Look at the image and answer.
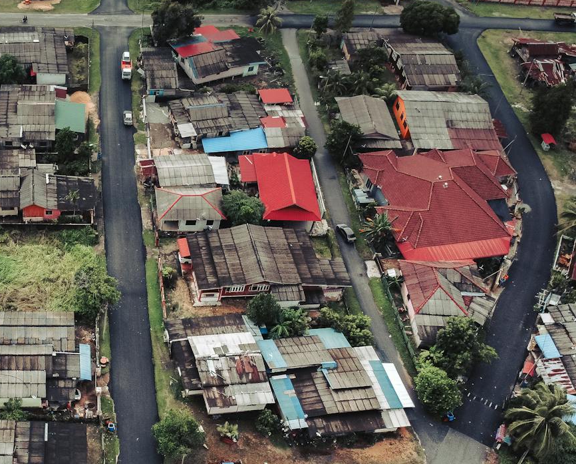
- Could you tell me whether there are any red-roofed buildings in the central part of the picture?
Yes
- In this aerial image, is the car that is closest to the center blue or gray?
gray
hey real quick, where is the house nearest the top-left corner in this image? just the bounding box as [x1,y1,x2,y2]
[0,28,69,76]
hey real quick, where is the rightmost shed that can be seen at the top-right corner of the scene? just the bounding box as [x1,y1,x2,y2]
[516,38,576,85]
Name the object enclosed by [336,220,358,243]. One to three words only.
car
